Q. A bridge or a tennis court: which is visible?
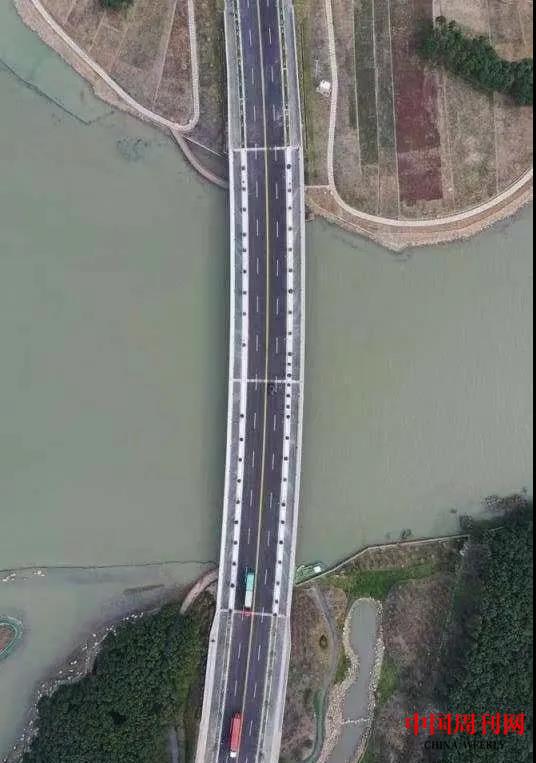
bridge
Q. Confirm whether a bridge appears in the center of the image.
Yes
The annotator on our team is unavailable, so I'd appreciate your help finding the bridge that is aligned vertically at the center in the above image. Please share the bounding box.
[216,146,305,615]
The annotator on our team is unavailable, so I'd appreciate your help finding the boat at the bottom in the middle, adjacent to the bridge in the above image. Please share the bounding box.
[294,562,325,581]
